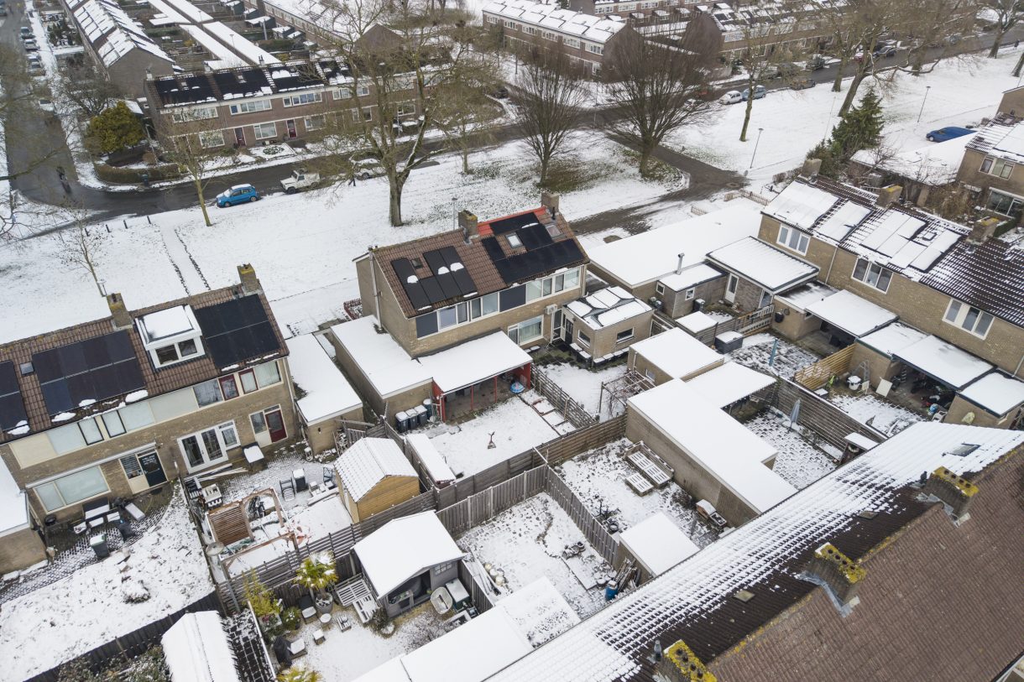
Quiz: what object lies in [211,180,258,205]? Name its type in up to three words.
car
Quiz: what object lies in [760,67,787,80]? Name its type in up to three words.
vehicle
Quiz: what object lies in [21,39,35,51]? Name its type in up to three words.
vehicle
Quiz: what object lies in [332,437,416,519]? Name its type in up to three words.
shed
